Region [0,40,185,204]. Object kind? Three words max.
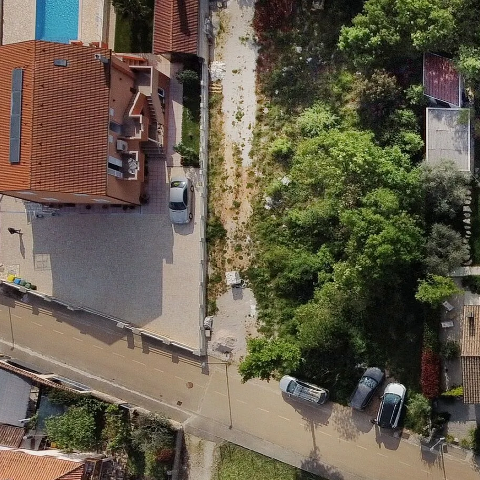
house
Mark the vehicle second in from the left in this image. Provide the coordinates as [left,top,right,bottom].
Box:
[277,377,328,409]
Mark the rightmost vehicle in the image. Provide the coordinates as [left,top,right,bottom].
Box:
[376,383,405,431]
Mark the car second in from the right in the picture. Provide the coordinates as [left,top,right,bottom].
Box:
[350,369,381,414]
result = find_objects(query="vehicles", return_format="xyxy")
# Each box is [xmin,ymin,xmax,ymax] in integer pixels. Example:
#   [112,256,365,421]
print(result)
[166,177,191,224]
[376,383,405,431]
[350,369,381,414]
[277,377,328,409]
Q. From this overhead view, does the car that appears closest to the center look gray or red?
gray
